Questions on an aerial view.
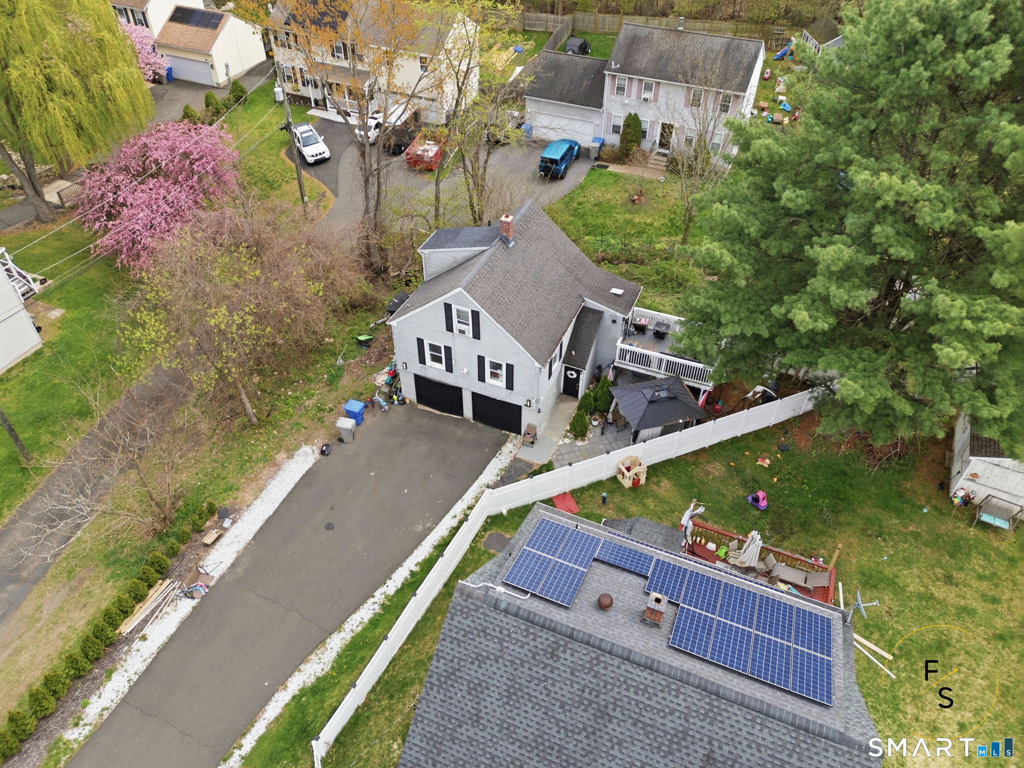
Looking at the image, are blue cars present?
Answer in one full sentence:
Yes, there's a blue car down there.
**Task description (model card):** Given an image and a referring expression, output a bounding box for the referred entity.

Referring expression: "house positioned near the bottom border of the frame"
[401,499,872,768]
